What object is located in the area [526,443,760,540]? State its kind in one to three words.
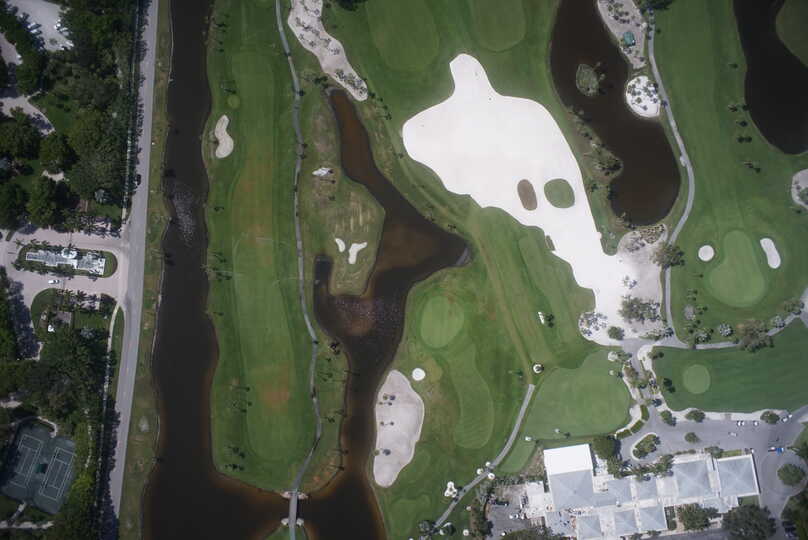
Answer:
building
